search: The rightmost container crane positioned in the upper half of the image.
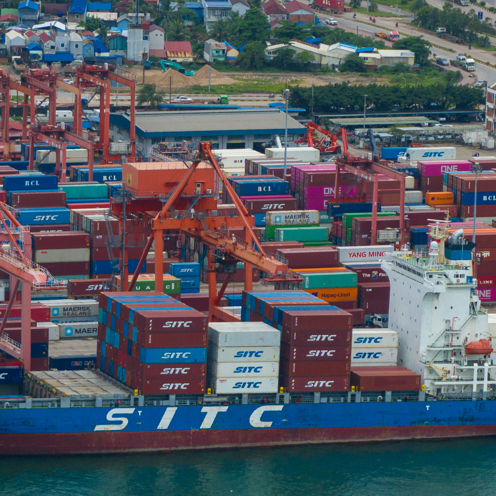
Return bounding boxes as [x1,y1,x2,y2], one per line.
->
[331,144,411,245]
